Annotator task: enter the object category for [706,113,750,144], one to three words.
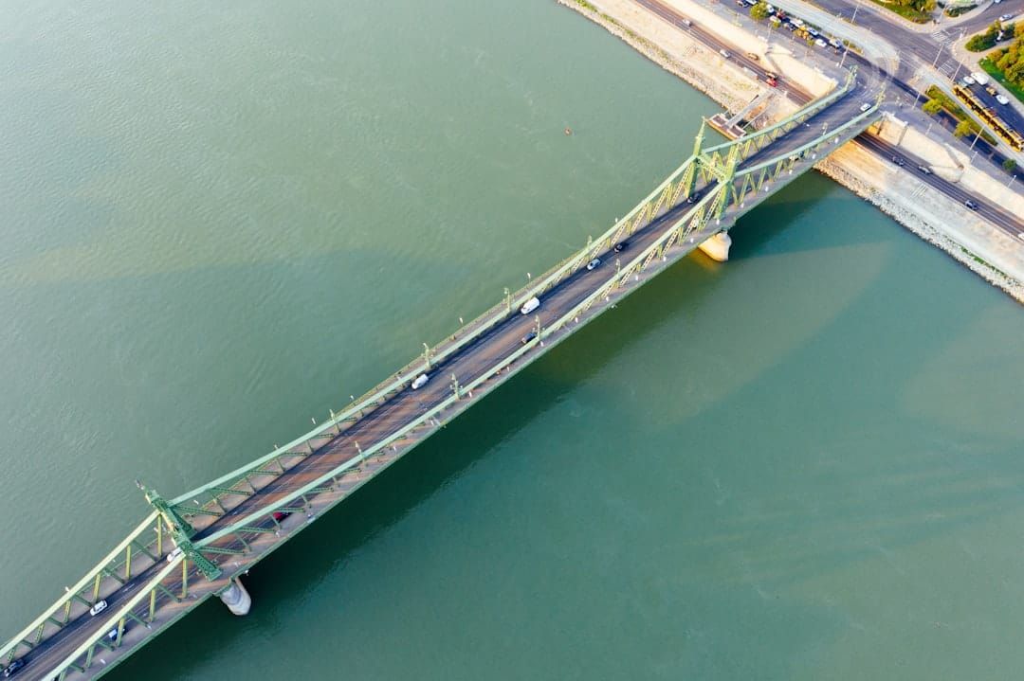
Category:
pier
